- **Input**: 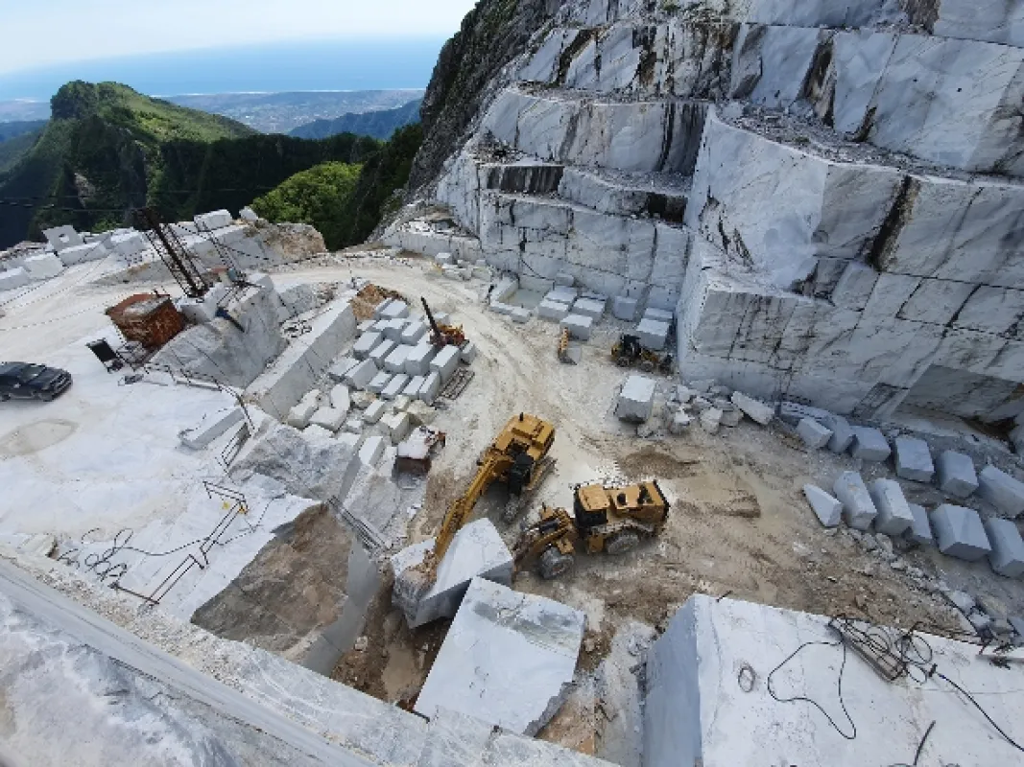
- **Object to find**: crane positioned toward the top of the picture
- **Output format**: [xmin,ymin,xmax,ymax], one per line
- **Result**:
[123,198,219,301]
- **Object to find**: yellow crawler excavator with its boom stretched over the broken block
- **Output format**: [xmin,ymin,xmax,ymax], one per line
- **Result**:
[391,418,559,618]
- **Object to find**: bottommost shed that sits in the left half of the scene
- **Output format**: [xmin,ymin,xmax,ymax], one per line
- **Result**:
[104,283,190,349]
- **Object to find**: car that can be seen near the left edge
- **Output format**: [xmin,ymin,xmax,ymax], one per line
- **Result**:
[0,350,77,406]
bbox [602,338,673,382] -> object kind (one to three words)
work vehicle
